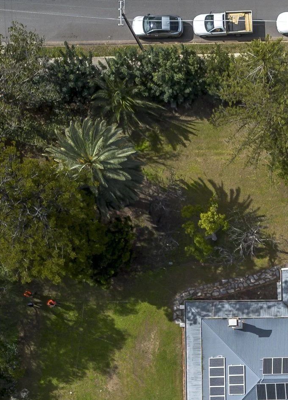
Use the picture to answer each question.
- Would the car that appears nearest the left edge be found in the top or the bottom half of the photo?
top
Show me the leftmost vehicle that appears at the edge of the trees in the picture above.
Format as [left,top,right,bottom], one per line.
[133,12,184,41]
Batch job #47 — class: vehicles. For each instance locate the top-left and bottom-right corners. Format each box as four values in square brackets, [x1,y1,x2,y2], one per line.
[193,10,253,38]
[276,12,288,36]
[133,12,184,41]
